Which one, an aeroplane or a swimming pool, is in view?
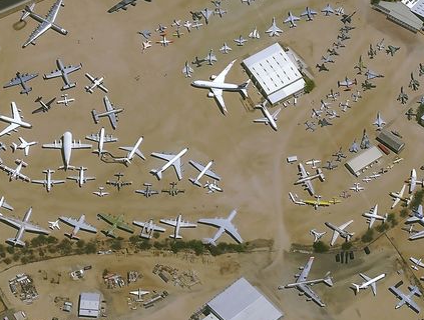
aeroplane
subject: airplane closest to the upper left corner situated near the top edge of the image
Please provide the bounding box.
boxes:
[21,0,68,46]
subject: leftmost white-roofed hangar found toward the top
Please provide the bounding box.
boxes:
[243,43,305,108]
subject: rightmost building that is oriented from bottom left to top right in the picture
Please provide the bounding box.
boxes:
[348,147,382,175]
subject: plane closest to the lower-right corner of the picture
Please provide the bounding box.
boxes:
[389,286,420,312]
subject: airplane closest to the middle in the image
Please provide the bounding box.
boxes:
[188,159,220,188]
